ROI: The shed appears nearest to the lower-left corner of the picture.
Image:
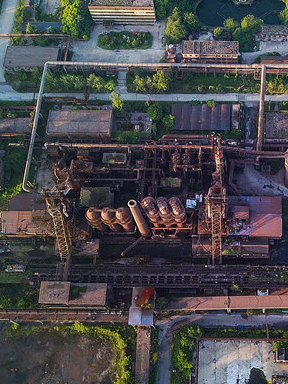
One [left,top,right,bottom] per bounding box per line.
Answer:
[38,282,73,308]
